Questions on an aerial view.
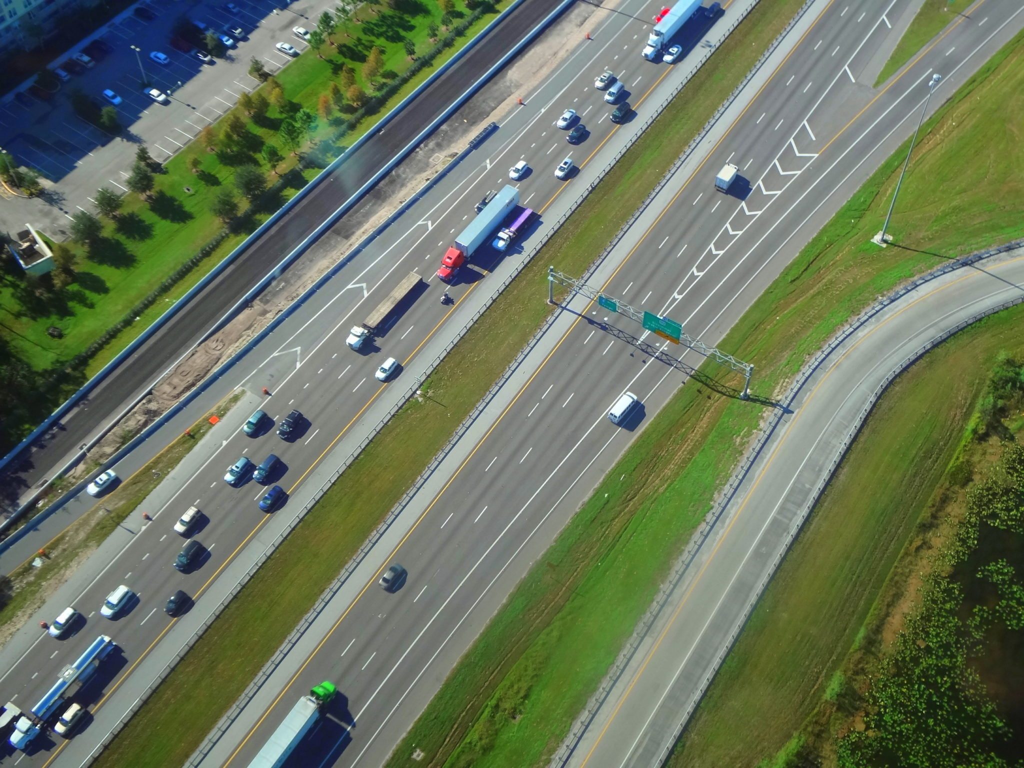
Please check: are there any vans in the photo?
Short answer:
Yes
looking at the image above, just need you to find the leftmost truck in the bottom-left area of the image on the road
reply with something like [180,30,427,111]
[0,702,21,733]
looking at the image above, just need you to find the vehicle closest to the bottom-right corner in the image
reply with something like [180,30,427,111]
[607,392,638,425]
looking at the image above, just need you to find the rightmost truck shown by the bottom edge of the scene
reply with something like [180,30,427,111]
[239,681,338,768]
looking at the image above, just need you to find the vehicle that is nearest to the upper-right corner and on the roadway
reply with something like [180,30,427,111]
[701,2,724,23]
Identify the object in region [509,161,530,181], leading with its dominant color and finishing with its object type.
white car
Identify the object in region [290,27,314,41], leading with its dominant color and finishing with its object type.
white car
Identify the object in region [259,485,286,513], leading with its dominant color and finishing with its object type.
blue car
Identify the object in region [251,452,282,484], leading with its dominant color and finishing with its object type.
blue car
